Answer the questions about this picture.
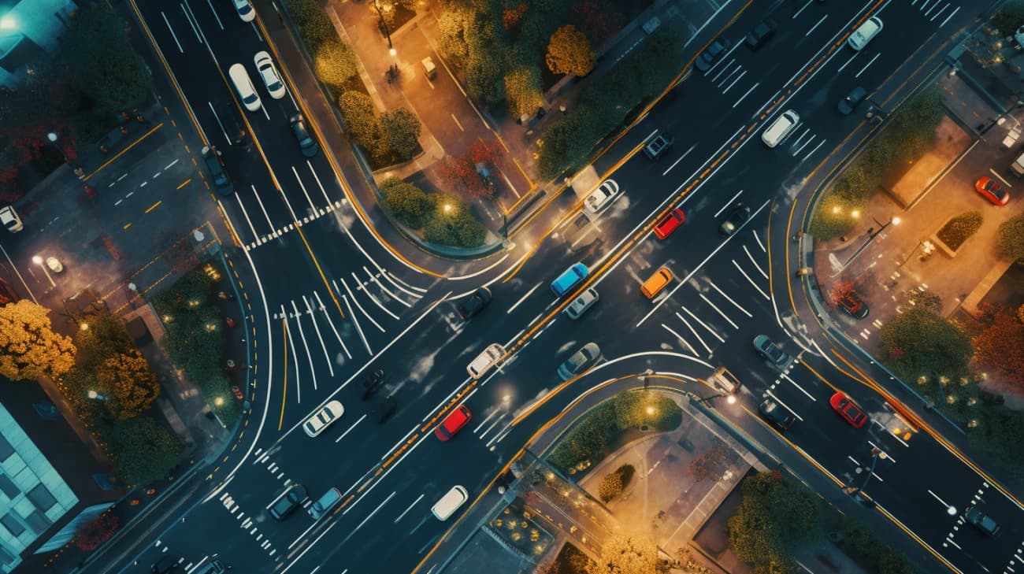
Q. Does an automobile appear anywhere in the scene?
Yes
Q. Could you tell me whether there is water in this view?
No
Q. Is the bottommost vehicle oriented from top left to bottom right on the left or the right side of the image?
right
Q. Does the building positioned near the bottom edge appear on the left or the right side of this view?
left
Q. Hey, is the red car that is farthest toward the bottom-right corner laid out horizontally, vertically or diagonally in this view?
diagonally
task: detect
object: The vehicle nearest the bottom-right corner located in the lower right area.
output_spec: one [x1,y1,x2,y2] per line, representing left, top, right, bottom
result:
[960,504,1001,538]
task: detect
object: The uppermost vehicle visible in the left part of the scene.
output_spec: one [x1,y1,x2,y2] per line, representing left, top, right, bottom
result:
[229,0,257,25]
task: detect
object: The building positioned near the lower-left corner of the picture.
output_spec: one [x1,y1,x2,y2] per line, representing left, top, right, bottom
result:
[0,373,97,574]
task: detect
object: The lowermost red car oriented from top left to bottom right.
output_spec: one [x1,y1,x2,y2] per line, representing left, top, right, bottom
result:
[825,389,870,429]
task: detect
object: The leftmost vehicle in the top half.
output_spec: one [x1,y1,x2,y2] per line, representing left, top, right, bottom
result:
[0,201,27,237]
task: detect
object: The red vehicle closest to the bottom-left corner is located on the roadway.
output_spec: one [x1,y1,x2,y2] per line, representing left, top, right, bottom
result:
[432,402,475,443]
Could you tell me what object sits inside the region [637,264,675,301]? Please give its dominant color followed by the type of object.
orange car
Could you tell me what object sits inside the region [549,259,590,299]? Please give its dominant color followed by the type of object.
blue car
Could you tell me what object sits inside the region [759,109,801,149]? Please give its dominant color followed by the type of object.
white car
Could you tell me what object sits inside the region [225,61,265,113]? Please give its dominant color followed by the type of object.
white car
